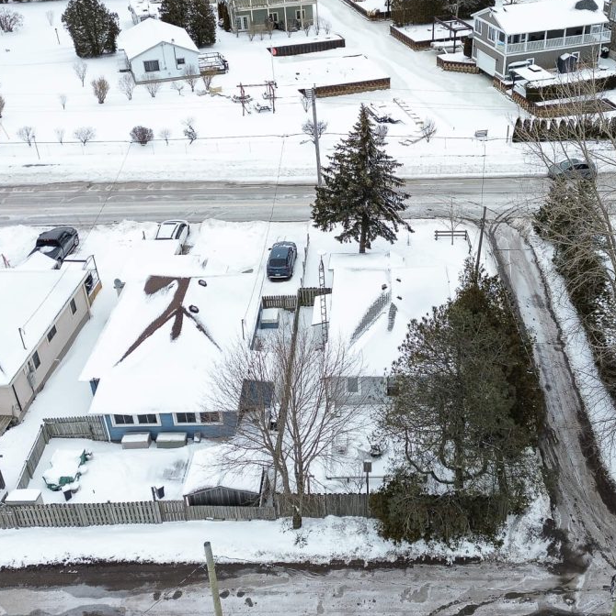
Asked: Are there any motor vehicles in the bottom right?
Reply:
No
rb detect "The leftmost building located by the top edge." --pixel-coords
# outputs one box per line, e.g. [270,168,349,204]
[123,18,200,82]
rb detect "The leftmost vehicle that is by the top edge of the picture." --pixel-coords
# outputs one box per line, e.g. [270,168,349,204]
[129,0,148,19]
